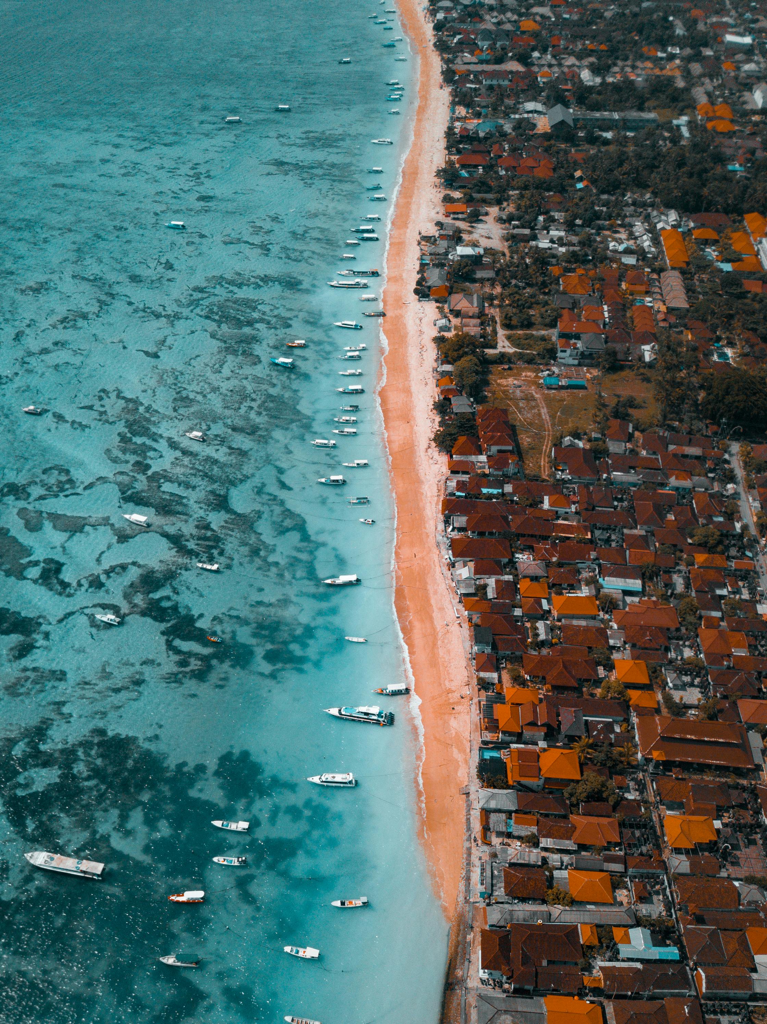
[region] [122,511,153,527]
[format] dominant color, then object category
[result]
white boat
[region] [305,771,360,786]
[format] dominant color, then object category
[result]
white boat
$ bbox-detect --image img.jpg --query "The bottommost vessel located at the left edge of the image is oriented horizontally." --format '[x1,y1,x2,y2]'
[20,844,108,878]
